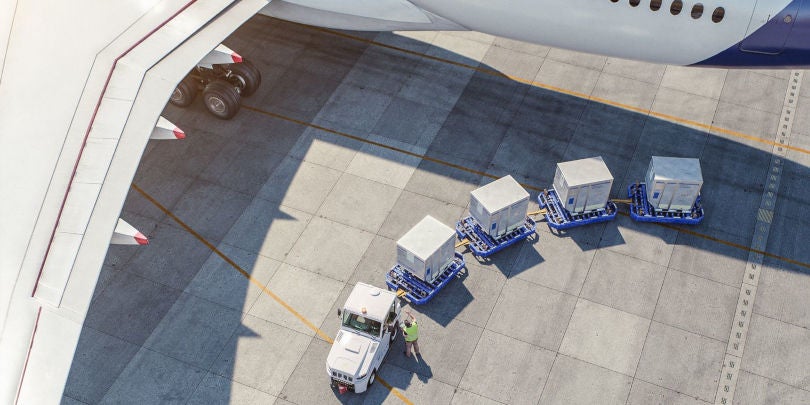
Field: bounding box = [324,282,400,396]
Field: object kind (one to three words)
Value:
work vehicle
